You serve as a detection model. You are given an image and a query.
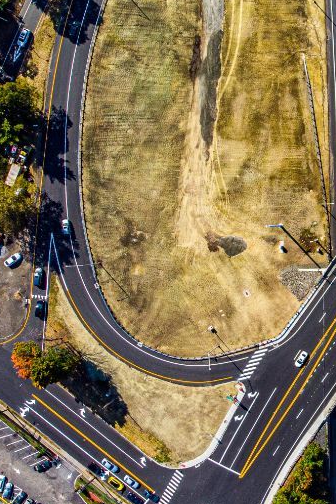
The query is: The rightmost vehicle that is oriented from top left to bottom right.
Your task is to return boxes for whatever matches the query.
[140,488,161,504]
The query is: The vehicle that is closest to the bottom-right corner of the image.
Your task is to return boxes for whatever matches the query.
[293,351,307,367]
